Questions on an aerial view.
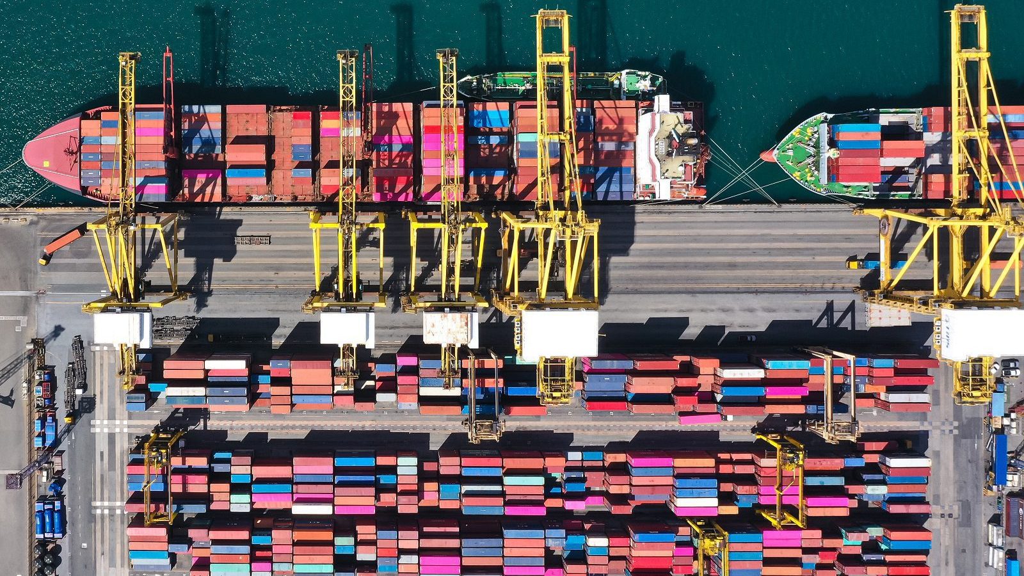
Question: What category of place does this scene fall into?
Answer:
port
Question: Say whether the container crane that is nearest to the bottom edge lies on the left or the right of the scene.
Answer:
right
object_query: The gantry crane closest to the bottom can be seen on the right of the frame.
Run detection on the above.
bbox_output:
[678,514,726,576]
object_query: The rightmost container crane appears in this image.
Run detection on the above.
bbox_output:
[853,2,1024,417]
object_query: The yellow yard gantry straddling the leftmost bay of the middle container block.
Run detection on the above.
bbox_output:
[143,428,186,525]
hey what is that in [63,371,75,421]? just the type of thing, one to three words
vehicle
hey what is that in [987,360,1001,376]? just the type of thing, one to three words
car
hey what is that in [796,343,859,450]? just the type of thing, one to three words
container crane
